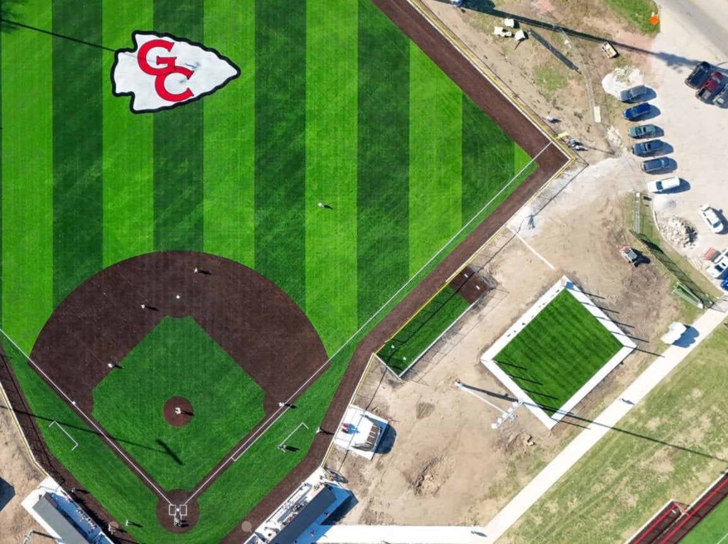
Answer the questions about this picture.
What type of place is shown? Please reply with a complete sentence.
This looks like a sports ground.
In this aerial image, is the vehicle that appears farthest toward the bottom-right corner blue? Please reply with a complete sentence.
No, the vehicle that appears farthest toward the bottom-right corner is actually white.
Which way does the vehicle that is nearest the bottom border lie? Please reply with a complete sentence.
Seen from above, the vehicle that is nearest the bottom border lies on a diagonal.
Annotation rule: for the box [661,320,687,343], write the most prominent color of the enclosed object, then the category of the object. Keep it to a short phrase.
white vehicle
